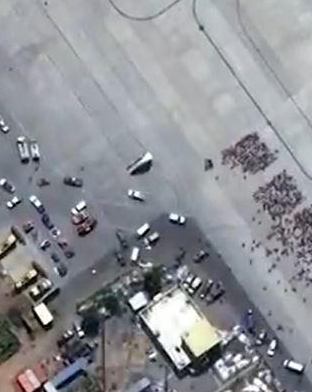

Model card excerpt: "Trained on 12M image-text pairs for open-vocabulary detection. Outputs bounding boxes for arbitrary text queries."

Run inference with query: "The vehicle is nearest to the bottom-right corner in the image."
[283,359,304,372]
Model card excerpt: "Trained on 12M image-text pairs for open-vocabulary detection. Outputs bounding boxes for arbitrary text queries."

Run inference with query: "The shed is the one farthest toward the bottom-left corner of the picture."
[16,369,40,392]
